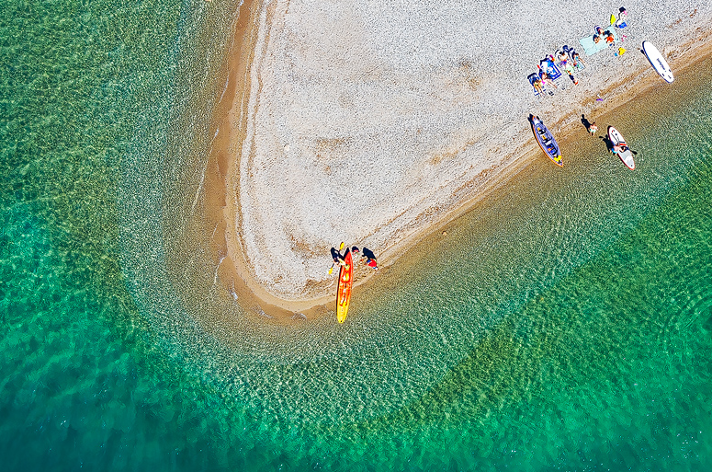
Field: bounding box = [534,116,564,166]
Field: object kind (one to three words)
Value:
boat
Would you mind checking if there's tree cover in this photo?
No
